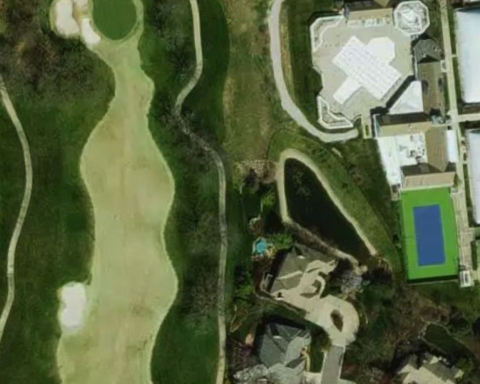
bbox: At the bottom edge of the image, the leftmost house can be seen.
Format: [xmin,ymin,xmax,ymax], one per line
[255,323,308,384]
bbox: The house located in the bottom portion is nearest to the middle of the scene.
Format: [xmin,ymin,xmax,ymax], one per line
[267,240,337,293]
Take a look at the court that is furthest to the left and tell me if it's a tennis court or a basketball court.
tennis court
